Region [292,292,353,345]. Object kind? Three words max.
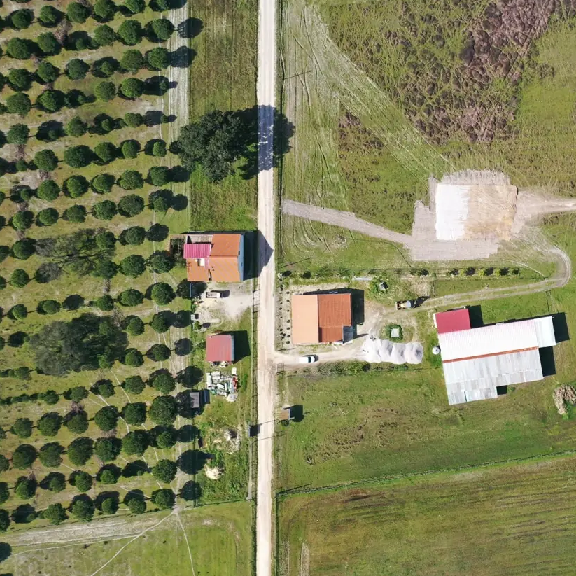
house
